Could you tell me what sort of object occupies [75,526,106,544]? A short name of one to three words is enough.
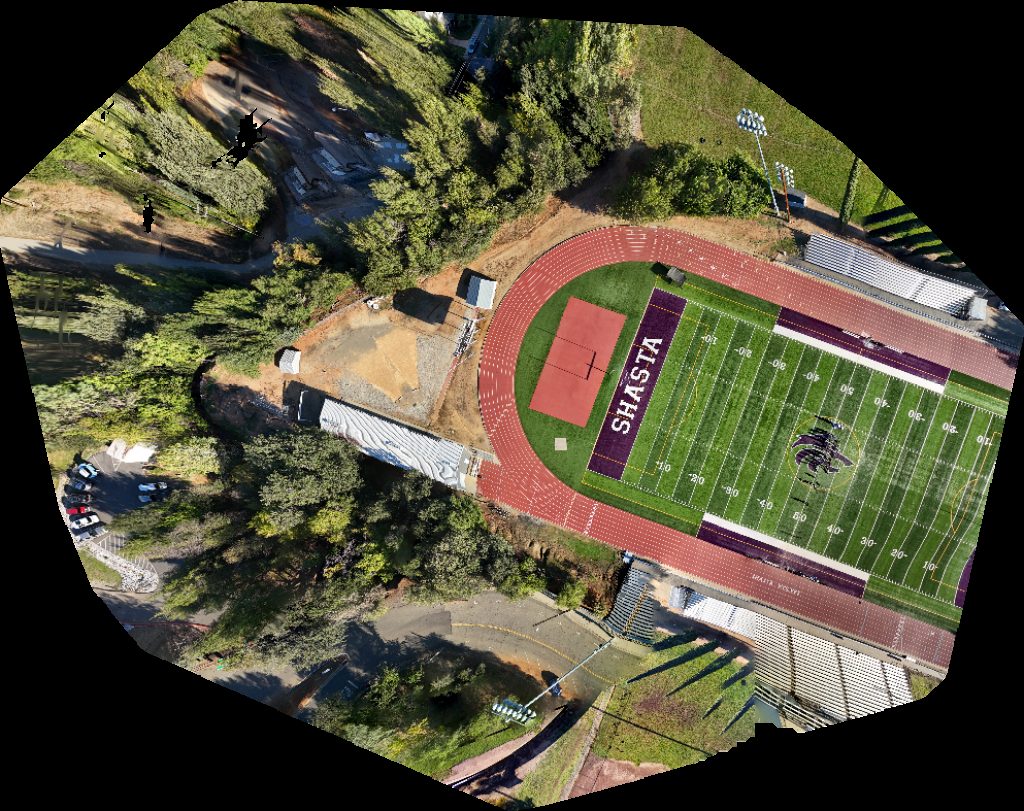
vehicle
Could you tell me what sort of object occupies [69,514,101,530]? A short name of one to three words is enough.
vehicle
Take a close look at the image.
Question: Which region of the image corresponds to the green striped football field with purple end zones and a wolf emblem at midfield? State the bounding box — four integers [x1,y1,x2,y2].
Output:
[516,262,1010,631]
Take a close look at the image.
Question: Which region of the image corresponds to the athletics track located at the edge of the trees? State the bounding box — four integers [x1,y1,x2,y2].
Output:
[475,220,1018,669]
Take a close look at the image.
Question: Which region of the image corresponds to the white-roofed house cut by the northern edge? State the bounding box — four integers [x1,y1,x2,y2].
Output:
[420,9,455,33]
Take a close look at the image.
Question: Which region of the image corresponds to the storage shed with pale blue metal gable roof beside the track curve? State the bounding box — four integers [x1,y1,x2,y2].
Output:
[464,275,503,310]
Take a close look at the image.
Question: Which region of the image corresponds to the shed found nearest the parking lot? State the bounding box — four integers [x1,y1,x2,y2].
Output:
[279,350,309,373]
